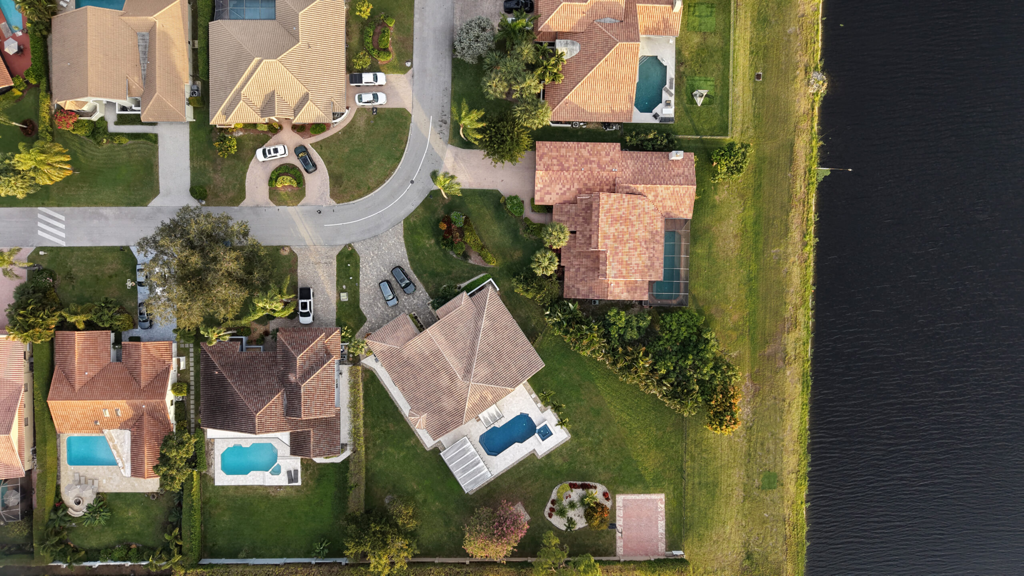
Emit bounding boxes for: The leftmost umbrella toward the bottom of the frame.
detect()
[6,490,22,505]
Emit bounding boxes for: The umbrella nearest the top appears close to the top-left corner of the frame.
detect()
[6,40,24,55]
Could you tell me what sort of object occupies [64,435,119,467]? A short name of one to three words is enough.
swimming pool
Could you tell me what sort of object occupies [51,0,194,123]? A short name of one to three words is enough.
house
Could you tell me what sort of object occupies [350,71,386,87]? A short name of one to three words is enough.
vehicle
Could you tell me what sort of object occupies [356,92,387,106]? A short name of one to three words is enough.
car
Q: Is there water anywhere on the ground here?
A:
Yes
